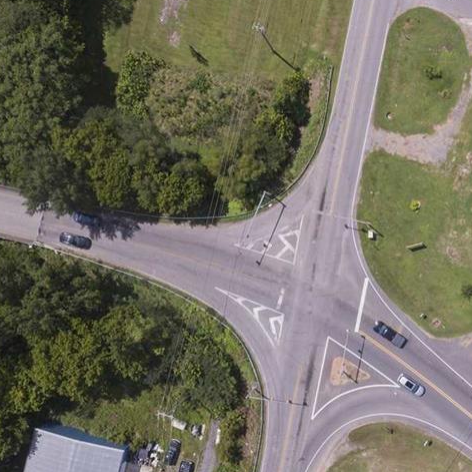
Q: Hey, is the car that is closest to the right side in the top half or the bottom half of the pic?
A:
bottom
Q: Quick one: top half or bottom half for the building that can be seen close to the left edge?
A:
bottom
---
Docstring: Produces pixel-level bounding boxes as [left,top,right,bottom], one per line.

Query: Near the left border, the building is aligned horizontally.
[23,423,130,472]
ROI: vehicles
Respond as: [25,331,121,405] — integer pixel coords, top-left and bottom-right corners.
[175,457,190,472]
[373,320,408,349]
[396,371,426,395]
[166,435,183,465]
[61,232,93,248]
